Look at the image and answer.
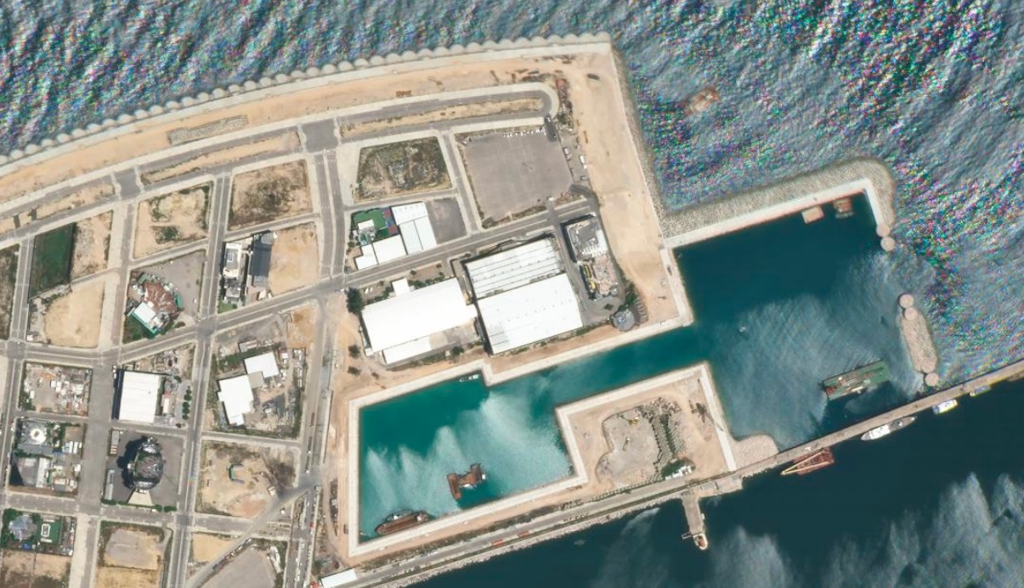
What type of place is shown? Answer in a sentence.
This image shows a port.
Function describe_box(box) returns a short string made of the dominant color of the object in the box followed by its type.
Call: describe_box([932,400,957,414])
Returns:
white vessel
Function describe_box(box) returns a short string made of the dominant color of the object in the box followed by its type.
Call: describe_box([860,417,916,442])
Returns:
white ship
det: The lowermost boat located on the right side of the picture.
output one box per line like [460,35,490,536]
[693,533,706,551]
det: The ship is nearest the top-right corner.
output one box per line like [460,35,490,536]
[833,197,853,218]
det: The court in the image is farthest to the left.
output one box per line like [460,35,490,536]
[40,519,62,545]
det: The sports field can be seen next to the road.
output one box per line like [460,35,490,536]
[354,207,398,241]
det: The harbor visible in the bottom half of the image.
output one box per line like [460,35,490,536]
[349,239,737,556]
